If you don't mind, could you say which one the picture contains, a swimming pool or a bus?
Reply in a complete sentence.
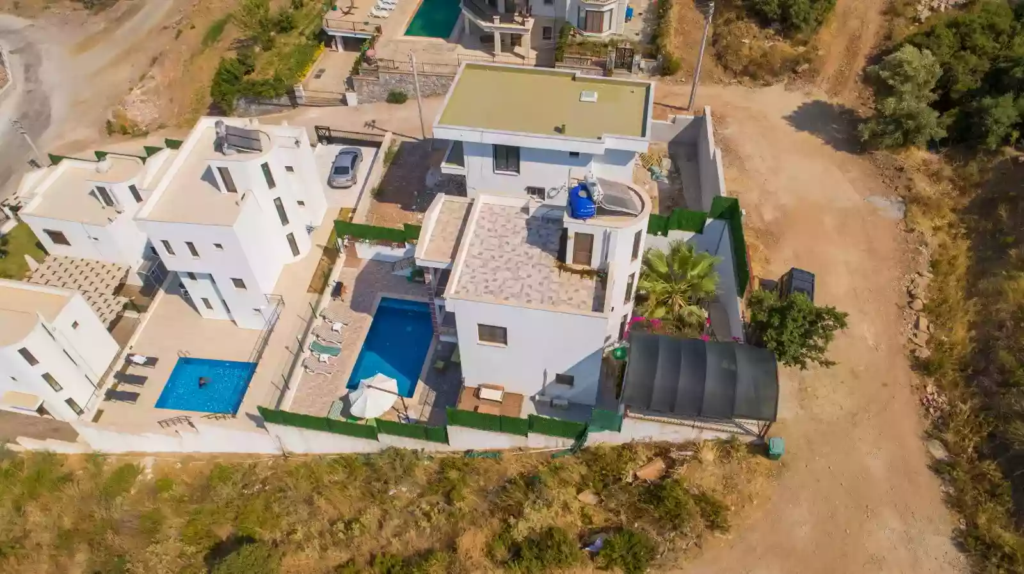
This aerial view contains a swimming pool.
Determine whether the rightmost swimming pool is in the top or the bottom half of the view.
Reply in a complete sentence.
You can find the rightmost swimming pool in the top half.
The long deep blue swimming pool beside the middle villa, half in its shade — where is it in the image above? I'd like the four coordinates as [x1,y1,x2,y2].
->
[341,292,436,403]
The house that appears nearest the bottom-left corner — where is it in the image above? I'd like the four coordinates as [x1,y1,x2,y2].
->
[0,273,121,419]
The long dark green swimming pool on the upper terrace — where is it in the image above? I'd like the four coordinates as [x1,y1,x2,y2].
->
[409,0,472,40]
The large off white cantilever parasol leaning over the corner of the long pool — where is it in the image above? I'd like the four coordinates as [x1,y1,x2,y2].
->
[350,376,414,425]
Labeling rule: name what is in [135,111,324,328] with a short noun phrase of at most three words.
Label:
house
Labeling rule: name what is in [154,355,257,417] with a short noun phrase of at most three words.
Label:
swimming pool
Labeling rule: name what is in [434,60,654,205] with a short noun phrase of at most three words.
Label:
house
